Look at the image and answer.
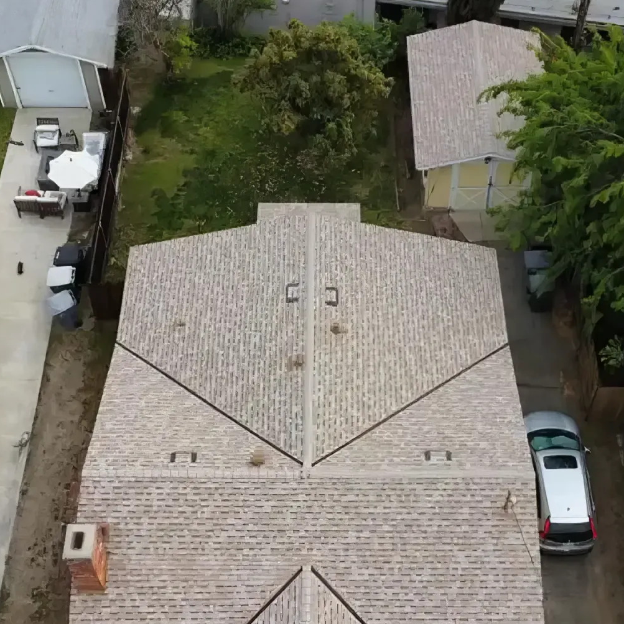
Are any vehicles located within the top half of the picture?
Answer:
No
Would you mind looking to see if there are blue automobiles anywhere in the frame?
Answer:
No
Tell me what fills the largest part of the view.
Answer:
buildings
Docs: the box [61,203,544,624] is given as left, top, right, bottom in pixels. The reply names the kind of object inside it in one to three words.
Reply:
house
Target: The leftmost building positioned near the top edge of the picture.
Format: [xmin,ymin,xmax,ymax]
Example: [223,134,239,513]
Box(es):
[0,0,125,107]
